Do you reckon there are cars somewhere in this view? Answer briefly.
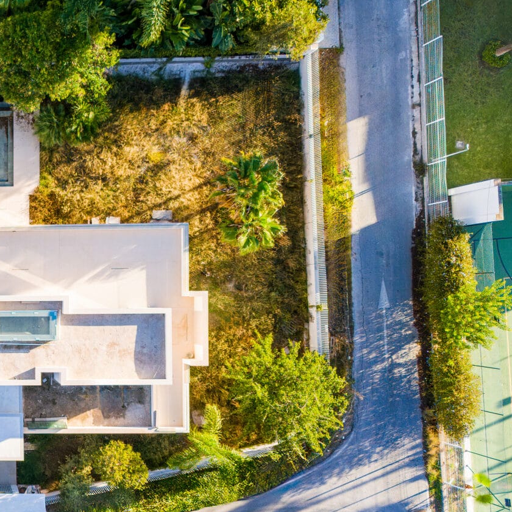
No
